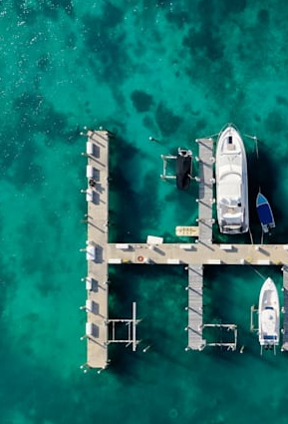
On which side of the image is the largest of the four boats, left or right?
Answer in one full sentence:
The largest of the four boats is on the right side of the image.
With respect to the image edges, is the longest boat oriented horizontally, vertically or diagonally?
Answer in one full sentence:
The longest boat is oriented vertically.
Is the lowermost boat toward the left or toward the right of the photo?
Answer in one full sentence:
The lowermost boat is on the right side of the image.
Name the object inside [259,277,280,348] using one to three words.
boat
